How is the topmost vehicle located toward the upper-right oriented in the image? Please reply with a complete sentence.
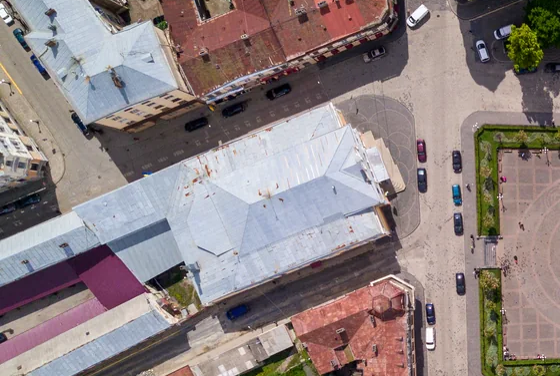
The topmost vehicle located toward the upper-right runs on a diagonal in the image.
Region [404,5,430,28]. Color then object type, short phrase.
white vehicle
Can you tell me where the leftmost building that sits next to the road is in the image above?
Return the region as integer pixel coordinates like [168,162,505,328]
[0,100,47,192]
